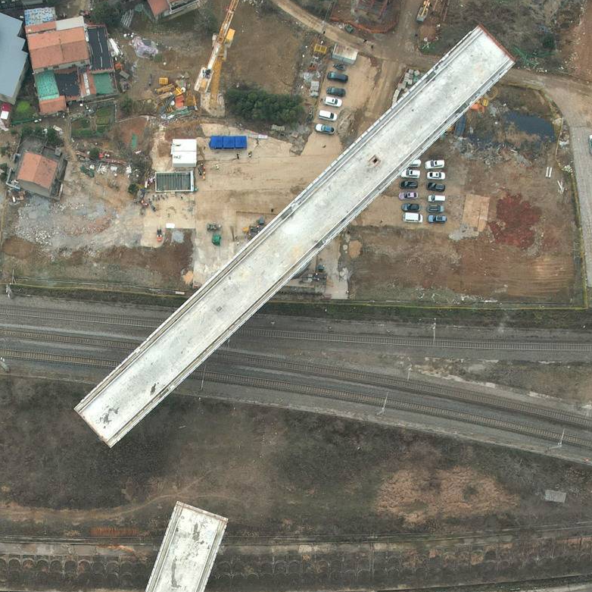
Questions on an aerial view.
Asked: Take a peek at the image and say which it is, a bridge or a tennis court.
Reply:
bridge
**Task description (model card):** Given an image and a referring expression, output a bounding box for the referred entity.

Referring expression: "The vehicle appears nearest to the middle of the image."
[245,215,266,234]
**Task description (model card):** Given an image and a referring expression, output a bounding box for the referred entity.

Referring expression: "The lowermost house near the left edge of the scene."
[18,151,59,193]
